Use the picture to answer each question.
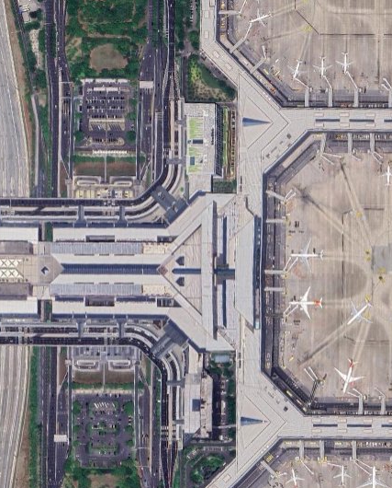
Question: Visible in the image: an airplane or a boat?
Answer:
airplane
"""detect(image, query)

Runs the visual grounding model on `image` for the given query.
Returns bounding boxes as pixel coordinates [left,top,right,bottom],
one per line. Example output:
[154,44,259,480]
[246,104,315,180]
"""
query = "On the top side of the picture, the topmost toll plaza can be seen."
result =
[139,77,153,92]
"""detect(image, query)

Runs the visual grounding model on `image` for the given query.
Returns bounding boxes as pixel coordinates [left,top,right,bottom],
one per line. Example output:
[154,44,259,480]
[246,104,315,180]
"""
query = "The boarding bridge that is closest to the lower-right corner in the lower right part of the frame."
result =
[353,439,373,476]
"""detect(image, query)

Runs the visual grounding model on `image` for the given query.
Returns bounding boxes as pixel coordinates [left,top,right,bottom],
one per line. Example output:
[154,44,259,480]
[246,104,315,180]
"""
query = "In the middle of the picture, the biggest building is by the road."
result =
[51,87,265,459]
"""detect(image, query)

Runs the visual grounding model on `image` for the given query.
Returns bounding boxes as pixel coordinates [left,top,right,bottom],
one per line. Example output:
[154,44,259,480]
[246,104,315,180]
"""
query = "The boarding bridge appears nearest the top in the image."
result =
[220,0,247,14]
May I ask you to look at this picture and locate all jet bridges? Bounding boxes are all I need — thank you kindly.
[250,45,267,73]
[346,71,358,107]
[320,132,342,165]
[300,439,315,475]
[381,78,392,107]
[370,132,384,165]
[348,132,362,161]
[262,461,288,476]
[220,0,247,14]
[265,256,299,273]
[266,304,300,317]
[320,439,343,468]
[231,21,253,52]
[374,387,386,415]
[353,439,373,476]
[267,189,297,202]
[294,77,309,107]
[323,75,333,107]
[347,388,363,415]
[304,367,319,406]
